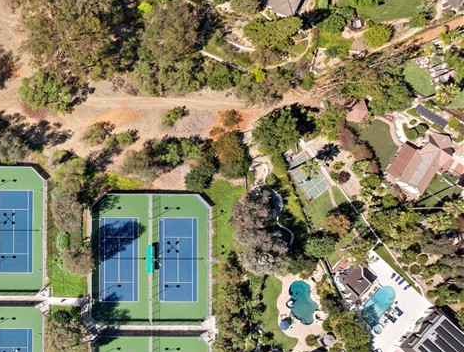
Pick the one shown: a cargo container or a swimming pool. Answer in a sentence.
Of the two, only a swimming pool appears.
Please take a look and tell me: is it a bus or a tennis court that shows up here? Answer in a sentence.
Of the two, only a tennis court appears.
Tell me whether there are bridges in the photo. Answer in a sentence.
No, no bridge can be seen from above.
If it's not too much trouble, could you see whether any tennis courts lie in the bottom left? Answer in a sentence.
Yes, a tennis court appears in the bottom left.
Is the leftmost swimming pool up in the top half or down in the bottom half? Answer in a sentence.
You can find the leftmost swimming pool in the bottom half.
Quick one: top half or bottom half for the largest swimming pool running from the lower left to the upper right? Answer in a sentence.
The largest swimming pool running from the lower left to the upper right is in the bottom half of the image.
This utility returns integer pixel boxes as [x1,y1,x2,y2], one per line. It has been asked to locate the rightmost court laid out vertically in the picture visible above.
[149,195,208,324]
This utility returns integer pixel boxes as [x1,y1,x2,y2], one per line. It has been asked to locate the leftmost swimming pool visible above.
[287,278,320,325]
